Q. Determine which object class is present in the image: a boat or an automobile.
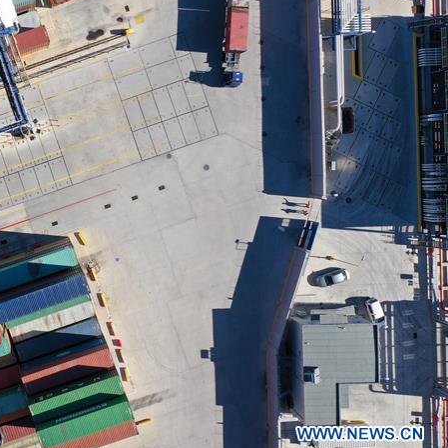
automobile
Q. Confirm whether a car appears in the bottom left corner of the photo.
No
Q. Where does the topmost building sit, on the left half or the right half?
right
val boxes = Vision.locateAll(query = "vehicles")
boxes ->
[361,295,387,326]
[220,40,244,90]
[317,267,350,285]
